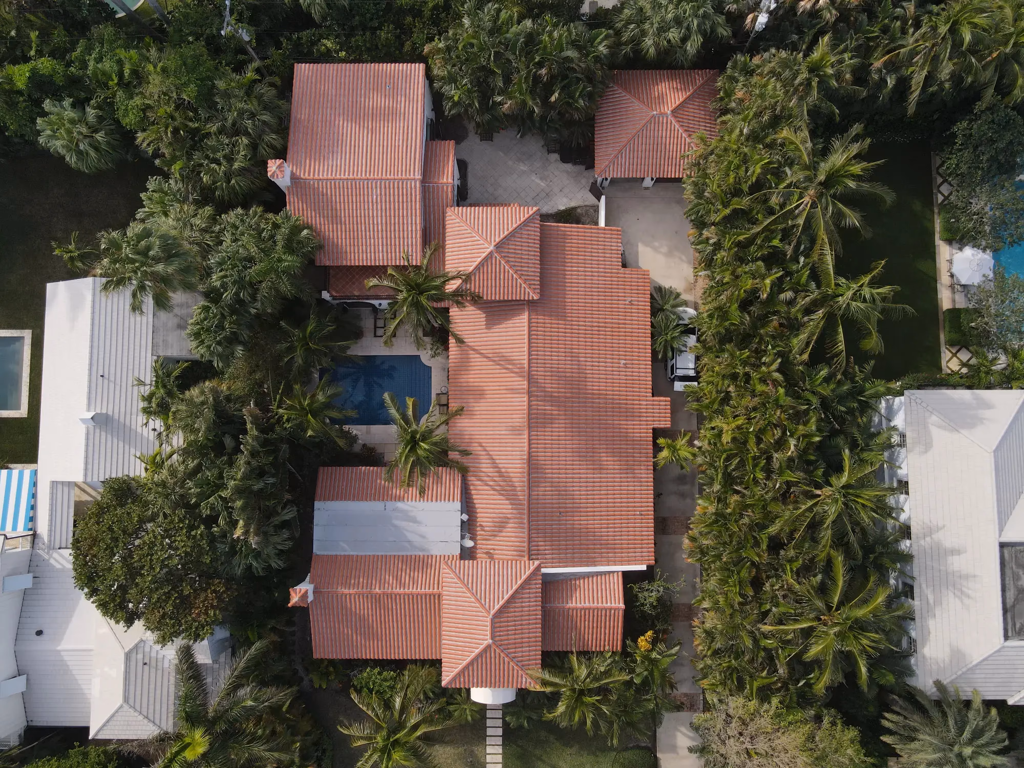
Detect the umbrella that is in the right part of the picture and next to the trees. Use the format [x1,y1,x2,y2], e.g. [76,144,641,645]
[946,245,990,288]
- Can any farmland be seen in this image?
No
